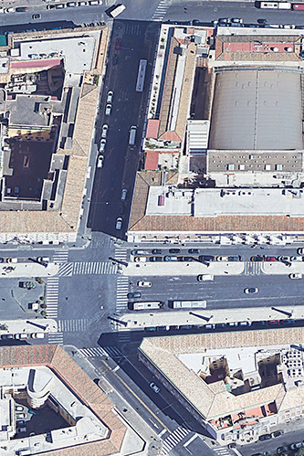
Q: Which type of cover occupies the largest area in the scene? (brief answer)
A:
buildings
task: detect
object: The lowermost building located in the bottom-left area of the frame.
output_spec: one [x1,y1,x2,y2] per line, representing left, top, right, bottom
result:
[0,345,150,456]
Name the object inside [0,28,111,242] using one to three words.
building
